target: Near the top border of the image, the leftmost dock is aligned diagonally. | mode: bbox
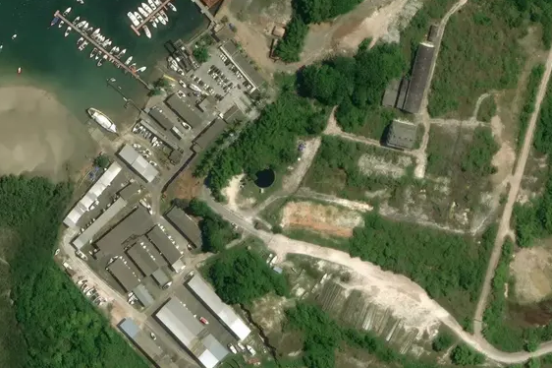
[53,8,137,78]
